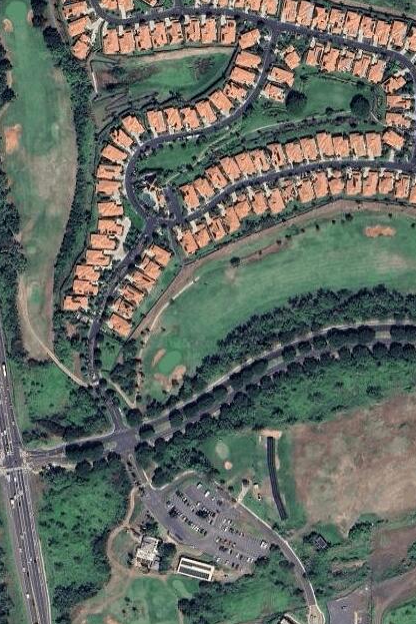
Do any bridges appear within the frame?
No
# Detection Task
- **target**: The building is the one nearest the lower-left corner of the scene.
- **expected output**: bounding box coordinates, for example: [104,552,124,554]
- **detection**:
[136,536,159,568]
